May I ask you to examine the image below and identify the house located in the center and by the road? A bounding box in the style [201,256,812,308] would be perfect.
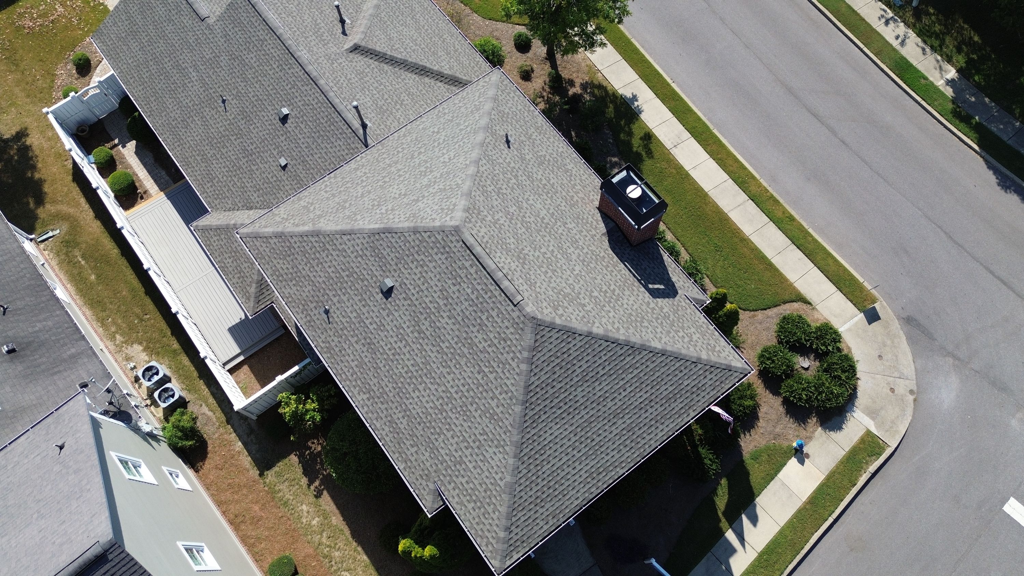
[92,0,753,574]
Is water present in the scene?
No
